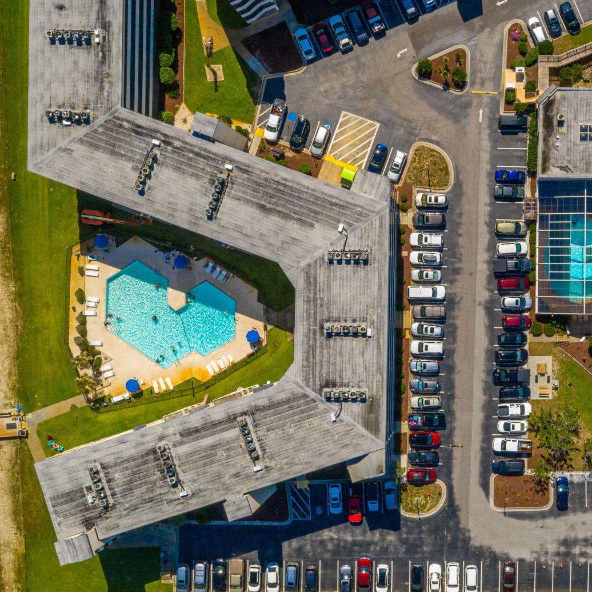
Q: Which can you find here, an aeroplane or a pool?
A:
pool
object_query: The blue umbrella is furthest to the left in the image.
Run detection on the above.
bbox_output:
[94,233,110,249]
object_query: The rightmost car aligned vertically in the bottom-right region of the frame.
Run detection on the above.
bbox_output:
[555,475,570,509]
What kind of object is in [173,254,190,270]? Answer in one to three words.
umbrella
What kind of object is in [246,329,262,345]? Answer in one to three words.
umbrella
